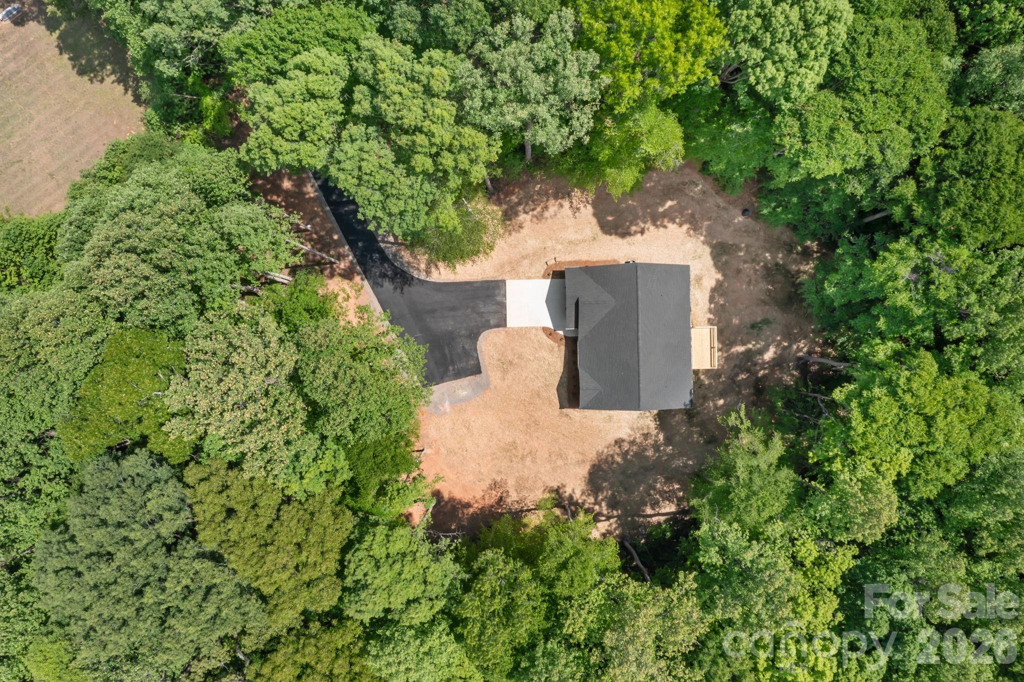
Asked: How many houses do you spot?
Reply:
one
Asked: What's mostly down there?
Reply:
trees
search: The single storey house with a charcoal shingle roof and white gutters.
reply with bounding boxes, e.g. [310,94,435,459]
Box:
[563,263,693,411]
